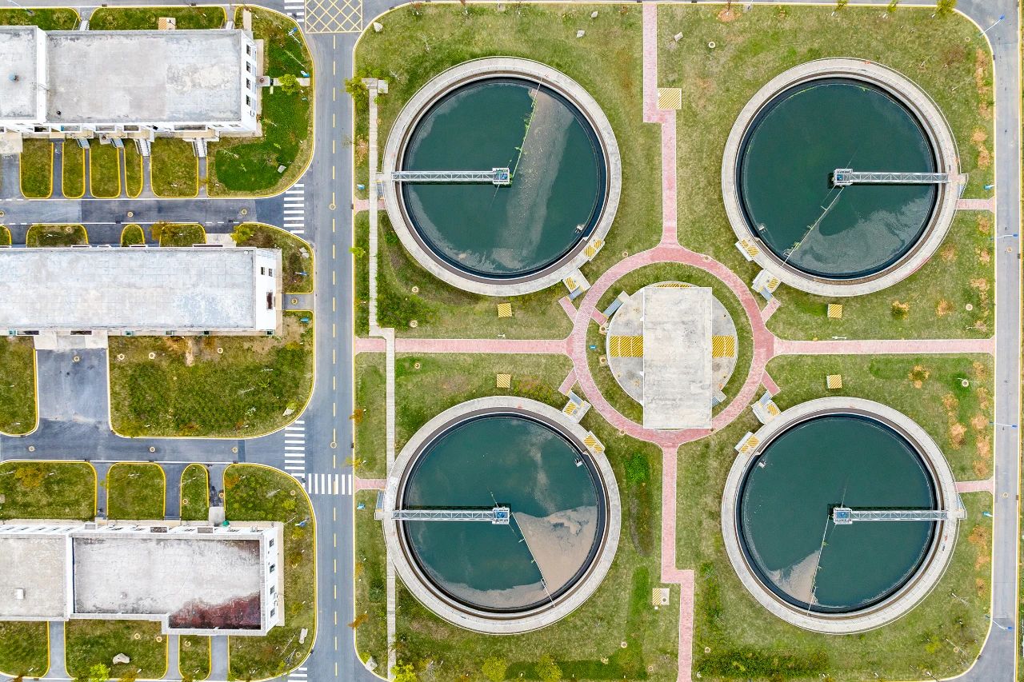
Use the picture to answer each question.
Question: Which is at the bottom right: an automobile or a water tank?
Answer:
water tank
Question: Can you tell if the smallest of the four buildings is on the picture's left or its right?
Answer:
right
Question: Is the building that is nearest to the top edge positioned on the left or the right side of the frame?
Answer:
left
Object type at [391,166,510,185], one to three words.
bridge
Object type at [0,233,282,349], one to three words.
building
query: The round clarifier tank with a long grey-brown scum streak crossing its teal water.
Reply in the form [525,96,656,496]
[374,56,621,302]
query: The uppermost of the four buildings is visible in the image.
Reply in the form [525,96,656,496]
[0,9,310,157]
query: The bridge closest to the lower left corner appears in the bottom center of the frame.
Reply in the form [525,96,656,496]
[391,507,510,526]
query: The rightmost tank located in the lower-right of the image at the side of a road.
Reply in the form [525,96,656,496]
[720,391,971,636]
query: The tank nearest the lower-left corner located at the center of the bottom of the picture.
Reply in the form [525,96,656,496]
[374,391,620,636]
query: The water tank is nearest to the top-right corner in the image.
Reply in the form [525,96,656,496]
[721,57,970,302]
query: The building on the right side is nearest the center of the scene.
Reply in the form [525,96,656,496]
[603,281,738,428]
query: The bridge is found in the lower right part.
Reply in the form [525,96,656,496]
[831,508,953,527]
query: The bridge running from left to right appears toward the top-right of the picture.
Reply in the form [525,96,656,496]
[831,166,954,185]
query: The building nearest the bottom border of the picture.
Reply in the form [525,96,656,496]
[0,506,284,636]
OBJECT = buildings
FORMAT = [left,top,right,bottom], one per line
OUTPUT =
[0,506,284,636]
[603,281,738,428]
[0,233,282,349]
[0,9,310,157]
